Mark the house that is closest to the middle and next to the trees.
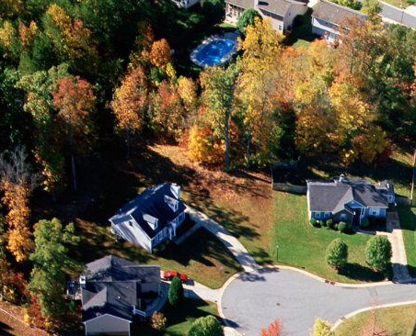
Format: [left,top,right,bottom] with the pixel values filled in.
[111,182,185,248]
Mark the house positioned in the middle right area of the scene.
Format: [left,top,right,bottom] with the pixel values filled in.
[303,173,394,225]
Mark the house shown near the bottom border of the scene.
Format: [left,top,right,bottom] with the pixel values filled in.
[67,255,161,335]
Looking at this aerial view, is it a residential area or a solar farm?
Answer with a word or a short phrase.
residential area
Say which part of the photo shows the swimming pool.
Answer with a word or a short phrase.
top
